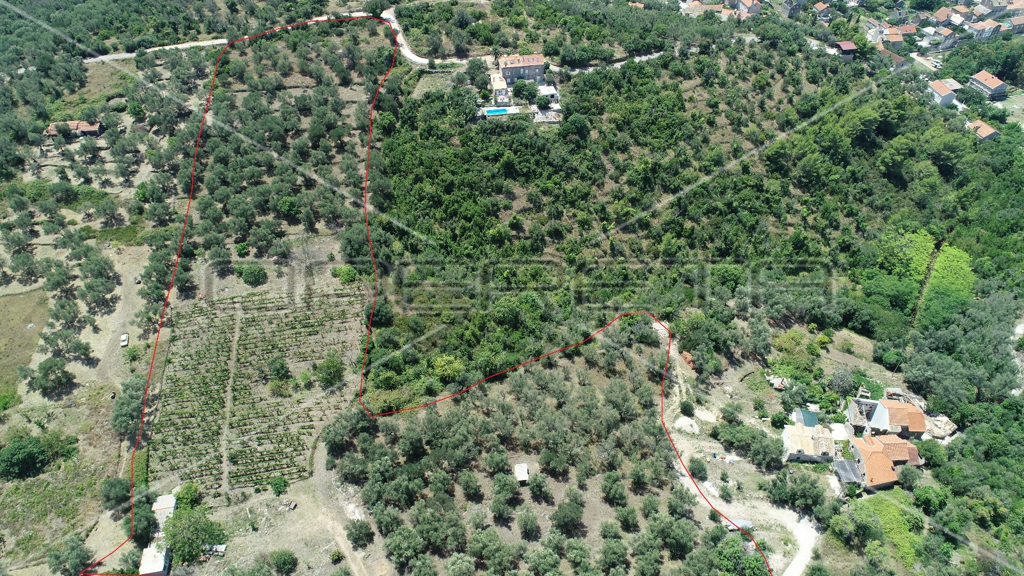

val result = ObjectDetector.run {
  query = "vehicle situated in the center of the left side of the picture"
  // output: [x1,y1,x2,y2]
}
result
[117,331,129,347]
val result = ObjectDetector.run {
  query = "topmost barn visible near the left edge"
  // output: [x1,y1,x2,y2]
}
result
[47,122,103,141]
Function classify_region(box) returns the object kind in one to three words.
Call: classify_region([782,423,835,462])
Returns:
house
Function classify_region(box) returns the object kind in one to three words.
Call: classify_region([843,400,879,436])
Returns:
house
